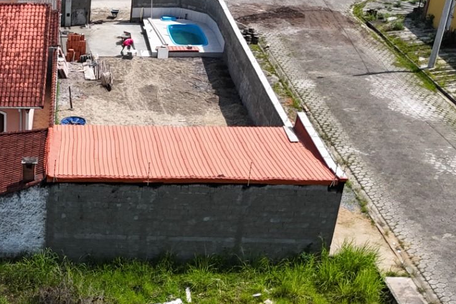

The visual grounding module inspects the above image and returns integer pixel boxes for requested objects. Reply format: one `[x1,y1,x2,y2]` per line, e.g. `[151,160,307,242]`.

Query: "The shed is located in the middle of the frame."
[44,106,354,250]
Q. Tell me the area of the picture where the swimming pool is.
top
